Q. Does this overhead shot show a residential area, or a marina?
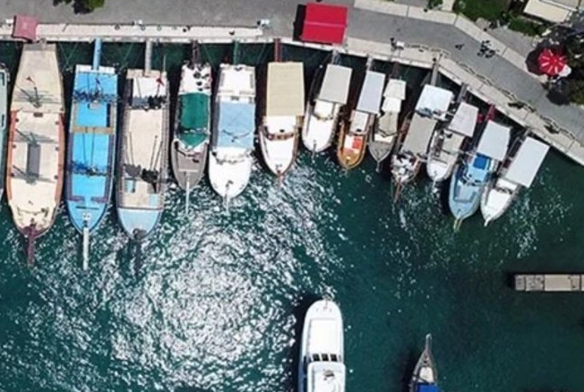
marina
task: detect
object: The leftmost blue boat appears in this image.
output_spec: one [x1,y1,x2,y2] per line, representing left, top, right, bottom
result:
[64,40,130,271]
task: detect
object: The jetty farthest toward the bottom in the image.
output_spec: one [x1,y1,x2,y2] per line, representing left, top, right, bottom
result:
[514,275,584,290]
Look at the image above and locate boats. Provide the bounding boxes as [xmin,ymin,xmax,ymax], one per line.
[205,42,265,214]
[411,333,455,392]
[430,82,479,193]
[482,126,550,227]
[371,60,406,172]
[453,104,512,231]
[306,49,356,159]
[394,61,454,189]
[171,40,214,214]
[258,39,305,187]
[298,300,349,392]
[6,42,77,268]
[64,40,130,271]
[116,40,181,275]
[341,53,387,176]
